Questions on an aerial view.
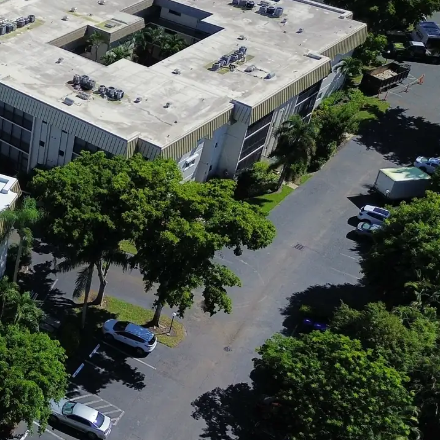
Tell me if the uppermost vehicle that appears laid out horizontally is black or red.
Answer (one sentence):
In this view, the uppermost vehicle that appears laid out horizontally is black.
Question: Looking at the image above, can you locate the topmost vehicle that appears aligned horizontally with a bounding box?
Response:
[389,43,440,62]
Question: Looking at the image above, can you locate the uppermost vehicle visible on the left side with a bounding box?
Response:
[97,317,158,351]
